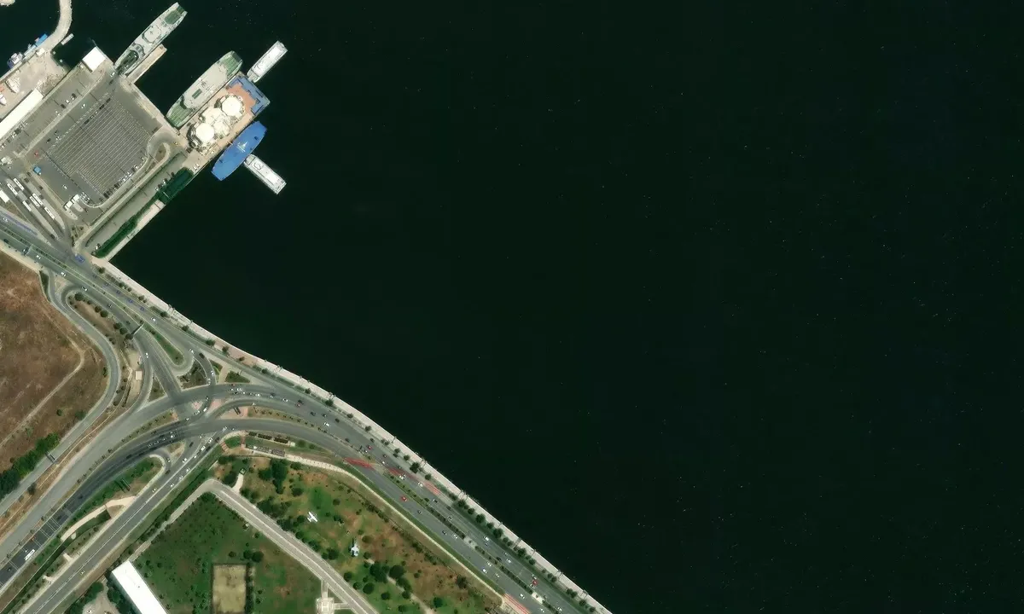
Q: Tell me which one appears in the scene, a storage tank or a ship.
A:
ship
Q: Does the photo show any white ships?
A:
Yes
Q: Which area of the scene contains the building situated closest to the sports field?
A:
bottom left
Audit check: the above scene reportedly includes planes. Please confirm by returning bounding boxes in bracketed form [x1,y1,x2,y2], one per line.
[307,511,319,522]
[351,541,360,557]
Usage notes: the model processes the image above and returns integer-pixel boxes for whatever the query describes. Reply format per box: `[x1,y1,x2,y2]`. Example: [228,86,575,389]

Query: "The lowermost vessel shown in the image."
[245,155,285,194]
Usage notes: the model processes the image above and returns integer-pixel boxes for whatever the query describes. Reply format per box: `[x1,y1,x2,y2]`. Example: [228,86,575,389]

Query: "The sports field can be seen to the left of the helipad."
[211,563,247,614]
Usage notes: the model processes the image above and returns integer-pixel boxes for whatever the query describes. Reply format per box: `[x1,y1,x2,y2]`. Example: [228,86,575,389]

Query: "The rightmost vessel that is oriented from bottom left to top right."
[248,42,286,82]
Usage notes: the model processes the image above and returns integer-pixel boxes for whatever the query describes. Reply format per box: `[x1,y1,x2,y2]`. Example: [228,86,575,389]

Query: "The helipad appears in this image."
[315,580,350,614]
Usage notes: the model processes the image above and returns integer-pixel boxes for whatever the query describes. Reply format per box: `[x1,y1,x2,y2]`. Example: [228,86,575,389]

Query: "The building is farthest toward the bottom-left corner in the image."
[112,560,167,614]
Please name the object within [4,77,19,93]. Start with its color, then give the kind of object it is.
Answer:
white boat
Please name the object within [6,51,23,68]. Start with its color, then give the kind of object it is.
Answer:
white boat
